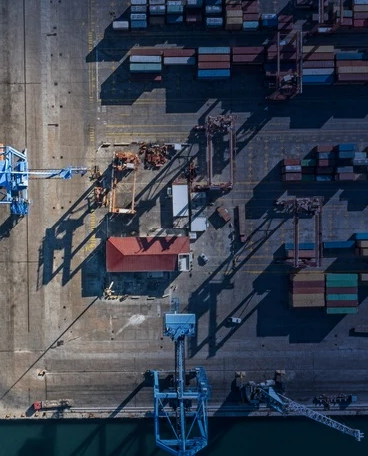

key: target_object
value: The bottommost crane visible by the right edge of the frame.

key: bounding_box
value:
[236,371,366,440]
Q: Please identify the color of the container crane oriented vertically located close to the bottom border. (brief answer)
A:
blue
